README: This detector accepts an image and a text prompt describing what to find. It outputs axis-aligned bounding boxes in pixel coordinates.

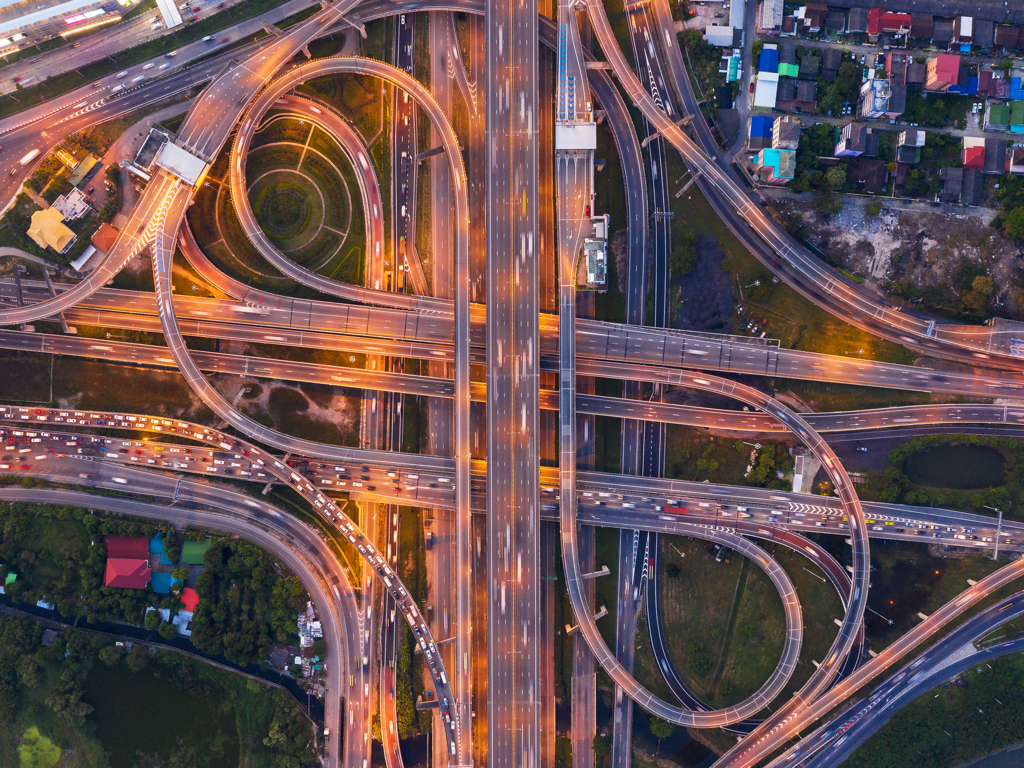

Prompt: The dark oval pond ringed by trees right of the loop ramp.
[903,442,1006,489]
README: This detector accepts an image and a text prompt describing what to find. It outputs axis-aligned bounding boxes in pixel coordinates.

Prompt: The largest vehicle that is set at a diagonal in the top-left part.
[18,148,38,163]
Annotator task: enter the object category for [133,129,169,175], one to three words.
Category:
building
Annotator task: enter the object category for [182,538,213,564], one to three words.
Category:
barn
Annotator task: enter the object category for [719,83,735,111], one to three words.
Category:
house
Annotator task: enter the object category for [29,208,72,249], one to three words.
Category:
house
